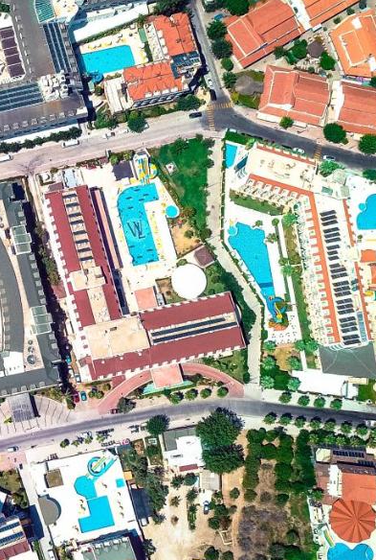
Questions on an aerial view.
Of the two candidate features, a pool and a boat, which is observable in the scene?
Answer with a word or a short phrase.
pool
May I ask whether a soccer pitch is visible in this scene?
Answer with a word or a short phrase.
No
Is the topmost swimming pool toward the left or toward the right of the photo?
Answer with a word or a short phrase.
left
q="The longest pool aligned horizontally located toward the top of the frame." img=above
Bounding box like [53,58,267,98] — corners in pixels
[75,44,135,75]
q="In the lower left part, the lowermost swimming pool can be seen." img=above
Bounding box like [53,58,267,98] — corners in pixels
[77,494,116,534]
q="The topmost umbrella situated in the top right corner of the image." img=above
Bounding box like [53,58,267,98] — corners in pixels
[308,41,325,59]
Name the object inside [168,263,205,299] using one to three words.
tent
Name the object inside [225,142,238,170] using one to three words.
swimming pool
